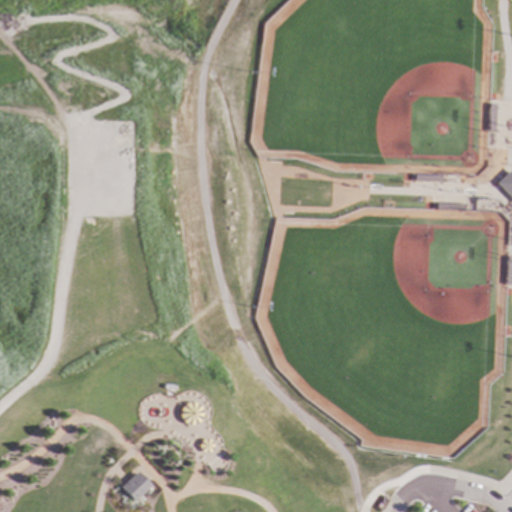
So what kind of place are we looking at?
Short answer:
sports ground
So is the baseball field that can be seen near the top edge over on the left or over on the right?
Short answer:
right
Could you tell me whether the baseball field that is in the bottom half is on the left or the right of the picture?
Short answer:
right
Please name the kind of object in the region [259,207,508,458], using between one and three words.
baseball field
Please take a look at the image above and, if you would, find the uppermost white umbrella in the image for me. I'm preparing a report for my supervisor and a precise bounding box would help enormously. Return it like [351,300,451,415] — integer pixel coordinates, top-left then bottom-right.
[184,402,206,426]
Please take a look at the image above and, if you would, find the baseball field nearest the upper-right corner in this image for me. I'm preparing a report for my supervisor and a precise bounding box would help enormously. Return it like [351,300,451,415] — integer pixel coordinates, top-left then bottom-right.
[252,0,492,174]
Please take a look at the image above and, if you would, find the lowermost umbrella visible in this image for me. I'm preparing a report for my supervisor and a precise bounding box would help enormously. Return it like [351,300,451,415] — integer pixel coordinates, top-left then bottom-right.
[202,438,216,454]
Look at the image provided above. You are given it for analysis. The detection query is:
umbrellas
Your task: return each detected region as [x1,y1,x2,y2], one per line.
[184,402,206,426]
[202,438,216,454]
